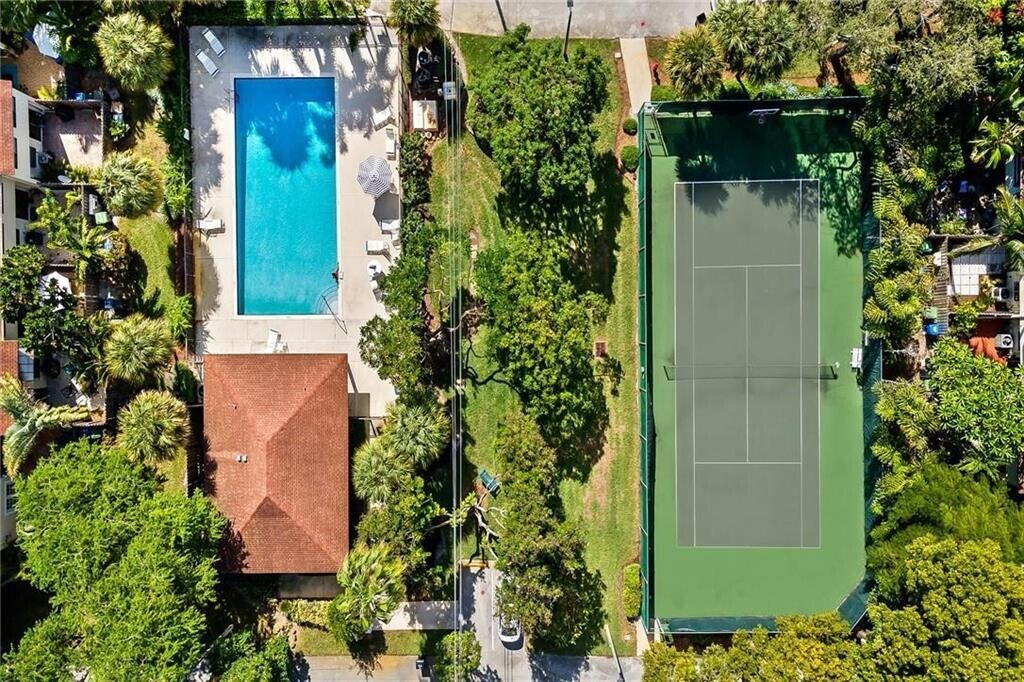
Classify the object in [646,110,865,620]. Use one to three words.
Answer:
tennis court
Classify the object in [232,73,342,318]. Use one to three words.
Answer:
swimming pool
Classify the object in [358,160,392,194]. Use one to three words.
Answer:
umbrella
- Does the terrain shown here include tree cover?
Yes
